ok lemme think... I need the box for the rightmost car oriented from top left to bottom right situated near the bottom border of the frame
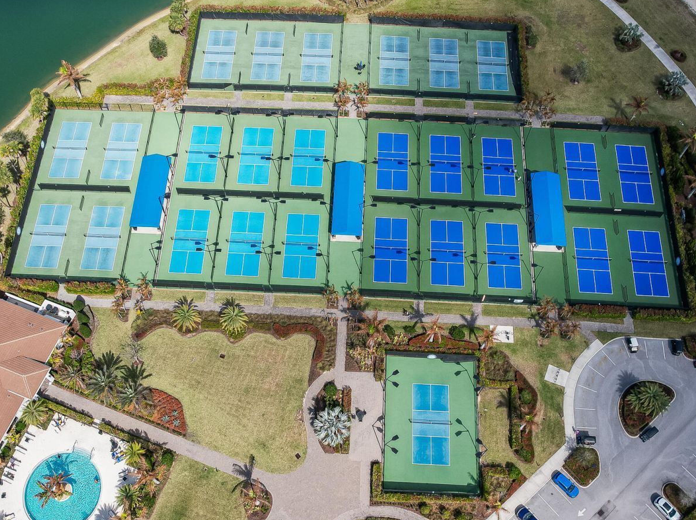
[652,494,682,520]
